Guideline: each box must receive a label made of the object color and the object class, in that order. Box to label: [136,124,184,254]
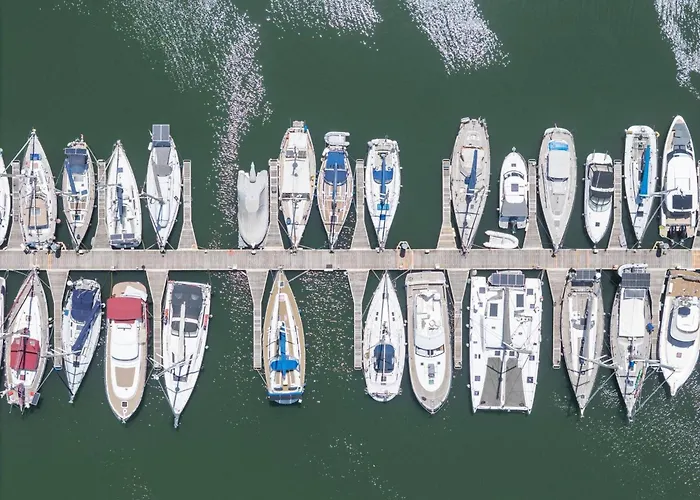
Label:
white boat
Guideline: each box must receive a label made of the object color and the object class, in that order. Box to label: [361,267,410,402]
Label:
white boat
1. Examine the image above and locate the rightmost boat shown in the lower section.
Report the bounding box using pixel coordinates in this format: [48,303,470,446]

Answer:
[653,269,700,400]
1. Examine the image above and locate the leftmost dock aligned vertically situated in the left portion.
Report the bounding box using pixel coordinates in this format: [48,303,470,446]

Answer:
[6,159,25,249]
